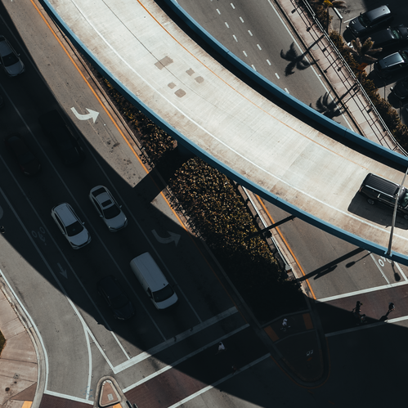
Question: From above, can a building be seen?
No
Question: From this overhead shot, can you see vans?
Yes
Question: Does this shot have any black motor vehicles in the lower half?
Yes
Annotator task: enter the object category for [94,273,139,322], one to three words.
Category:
car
